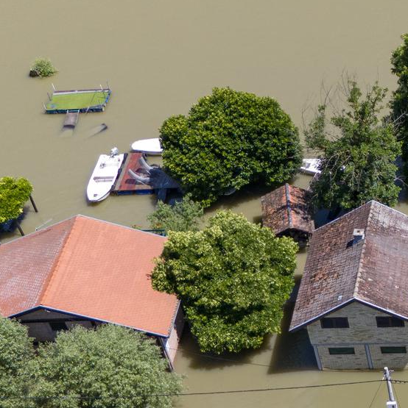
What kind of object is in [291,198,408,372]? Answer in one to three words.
house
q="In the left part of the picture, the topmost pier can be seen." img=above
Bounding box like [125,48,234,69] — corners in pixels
[114,152,188,196]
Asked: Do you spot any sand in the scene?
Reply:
No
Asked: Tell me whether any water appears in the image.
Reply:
Yes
